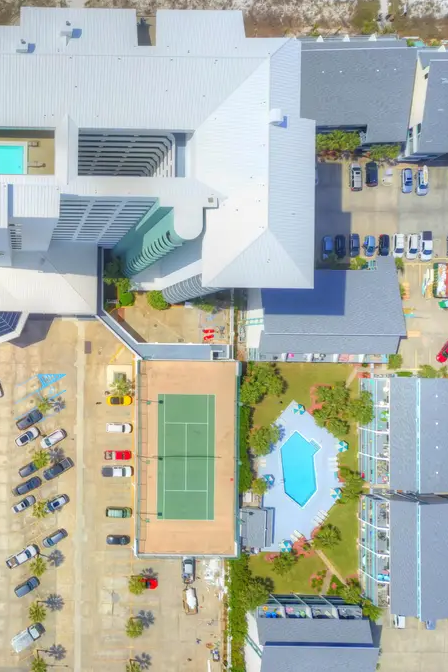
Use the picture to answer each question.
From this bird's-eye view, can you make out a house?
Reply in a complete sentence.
Yes, a house can be made out from above.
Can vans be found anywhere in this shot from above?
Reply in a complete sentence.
Yes, this view includes a van.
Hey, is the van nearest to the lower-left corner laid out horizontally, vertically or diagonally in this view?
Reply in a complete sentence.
What the image shows is the van nearest to the lower-left corner lying diagonally.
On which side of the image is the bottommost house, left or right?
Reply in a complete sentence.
The bottommost house appears in the right half of the scene.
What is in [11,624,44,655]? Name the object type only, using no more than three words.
van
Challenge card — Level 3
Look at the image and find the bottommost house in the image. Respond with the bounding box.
[242,583,379,672]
